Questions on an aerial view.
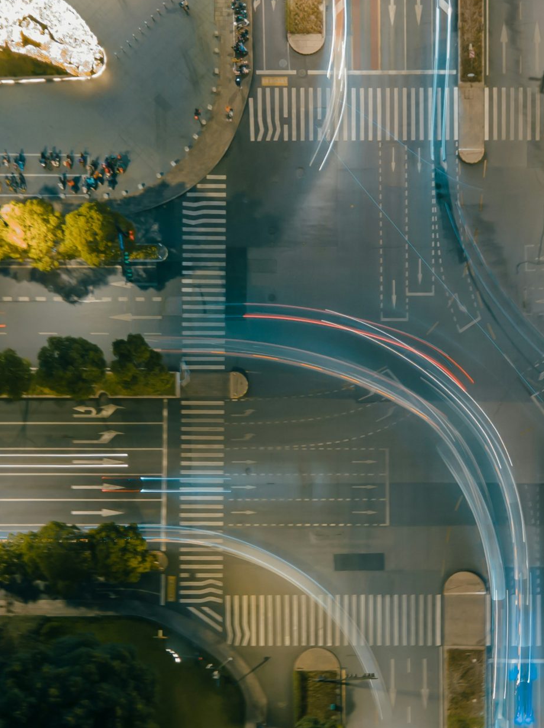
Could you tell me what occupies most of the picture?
paved ground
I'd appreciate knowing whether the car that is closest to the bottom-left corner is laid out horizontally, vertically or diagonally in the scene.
horizontally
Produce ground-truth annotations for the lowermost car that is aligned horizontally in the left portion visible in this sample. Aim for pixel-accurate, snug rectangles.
[163,528,206,548]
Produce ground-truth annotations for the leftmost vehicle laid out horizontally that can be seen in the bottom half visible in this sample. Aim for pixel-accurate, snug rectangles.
[84,451,129,471]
